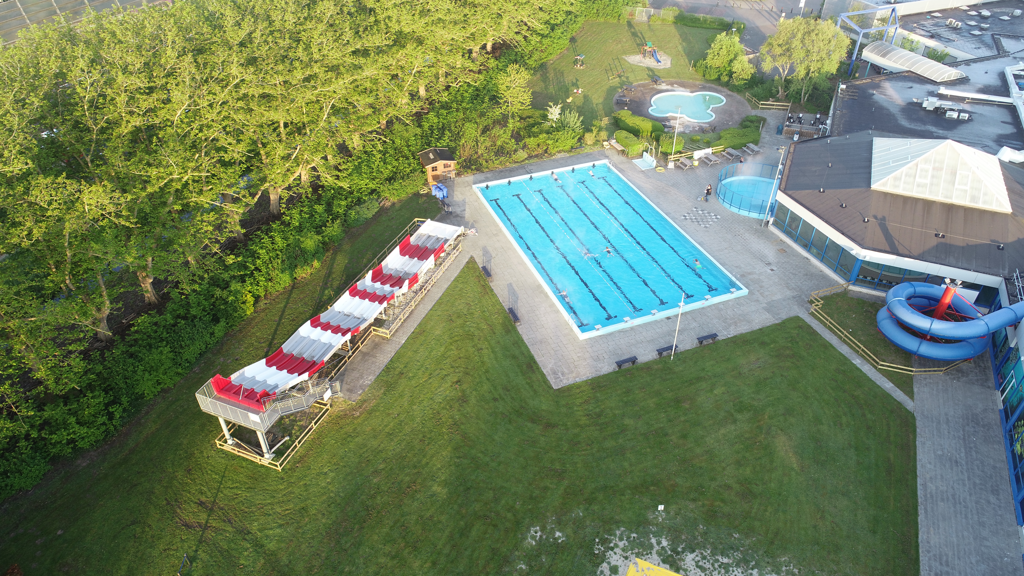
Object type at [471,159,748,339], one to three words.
swimming pool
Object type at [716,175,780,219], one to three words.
swimming pool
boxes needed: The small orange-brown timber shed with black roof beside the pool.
[417,146,459,182]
